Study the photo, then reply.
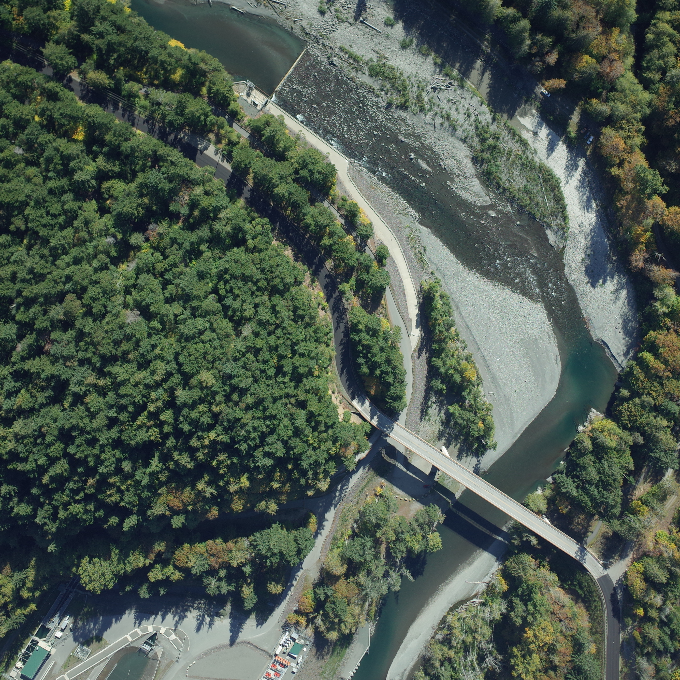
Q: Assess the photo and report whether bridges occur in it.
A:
Yes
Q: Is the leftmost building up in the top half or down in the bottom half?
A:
bottom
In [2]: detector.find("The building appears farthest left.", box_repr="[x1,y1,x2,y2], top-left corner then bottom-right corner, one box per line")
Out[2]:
[20,643,53,679]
